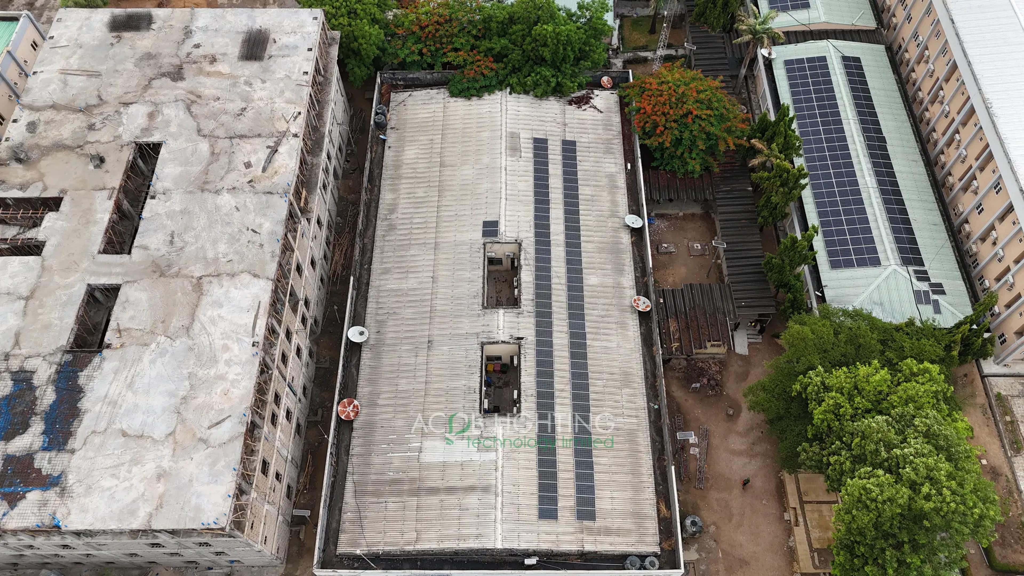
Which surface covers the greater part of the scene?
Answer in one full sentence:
For the most part, this view shows buildings.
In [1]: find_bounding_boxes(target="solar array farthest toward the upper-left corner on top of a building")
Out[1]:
[482,220,499,239]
